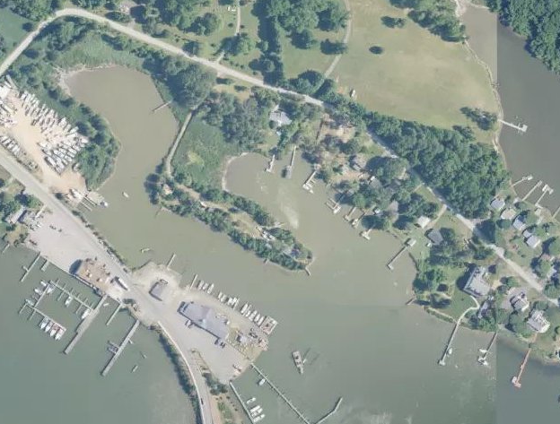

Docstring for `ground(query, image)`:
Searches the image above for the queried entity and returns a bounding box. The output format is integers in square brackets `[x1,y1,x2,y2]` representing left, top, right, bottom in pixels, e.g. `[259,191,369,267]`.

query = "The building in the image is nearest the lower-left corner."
[76,260,111,291]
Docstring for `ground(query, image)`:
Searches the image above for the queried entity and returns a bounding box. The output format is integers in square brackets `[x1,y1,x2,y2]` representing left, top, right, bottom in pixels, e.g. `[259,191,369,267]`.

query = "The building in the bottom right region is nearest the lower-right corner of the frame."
[526,311,554,336]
